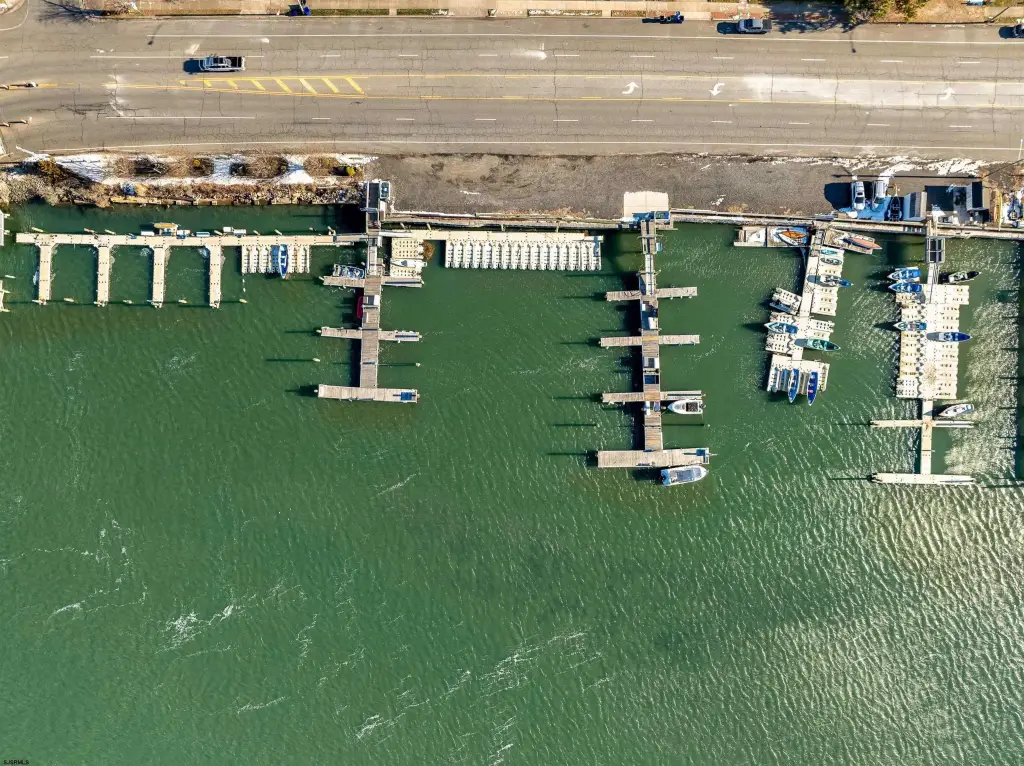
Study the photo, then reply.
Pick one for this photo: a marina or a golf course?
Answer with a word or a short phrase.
marina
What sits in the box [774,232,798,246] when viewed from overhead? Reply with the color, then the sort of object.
white boat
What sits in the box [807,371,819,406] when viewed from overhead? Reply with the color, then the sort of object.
blue boat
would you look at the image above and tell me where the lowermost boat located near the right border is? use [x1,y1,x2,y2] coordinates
[938,402,975,417]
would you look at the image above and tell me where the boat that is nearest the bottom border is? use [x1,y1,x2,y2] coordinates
[659,466,709,485]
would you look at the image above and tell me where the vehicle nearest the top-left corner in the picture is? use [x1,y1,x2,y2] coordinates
[201,54,245,73]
